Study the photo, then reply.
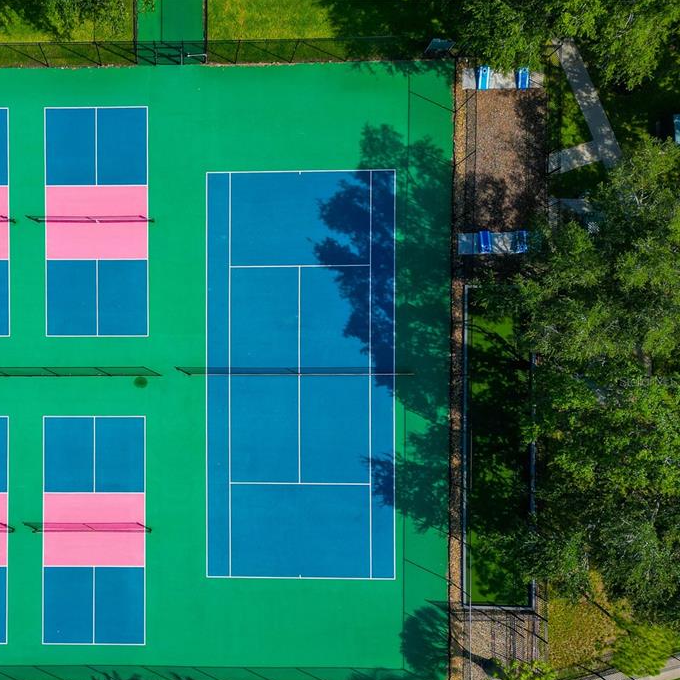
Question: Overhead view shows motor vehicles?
No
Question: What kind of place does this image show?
sports ground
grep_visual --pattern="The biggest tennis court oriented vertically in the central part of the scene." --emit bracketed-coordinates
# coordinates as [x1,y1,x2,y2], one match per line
[206,169,396,579]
